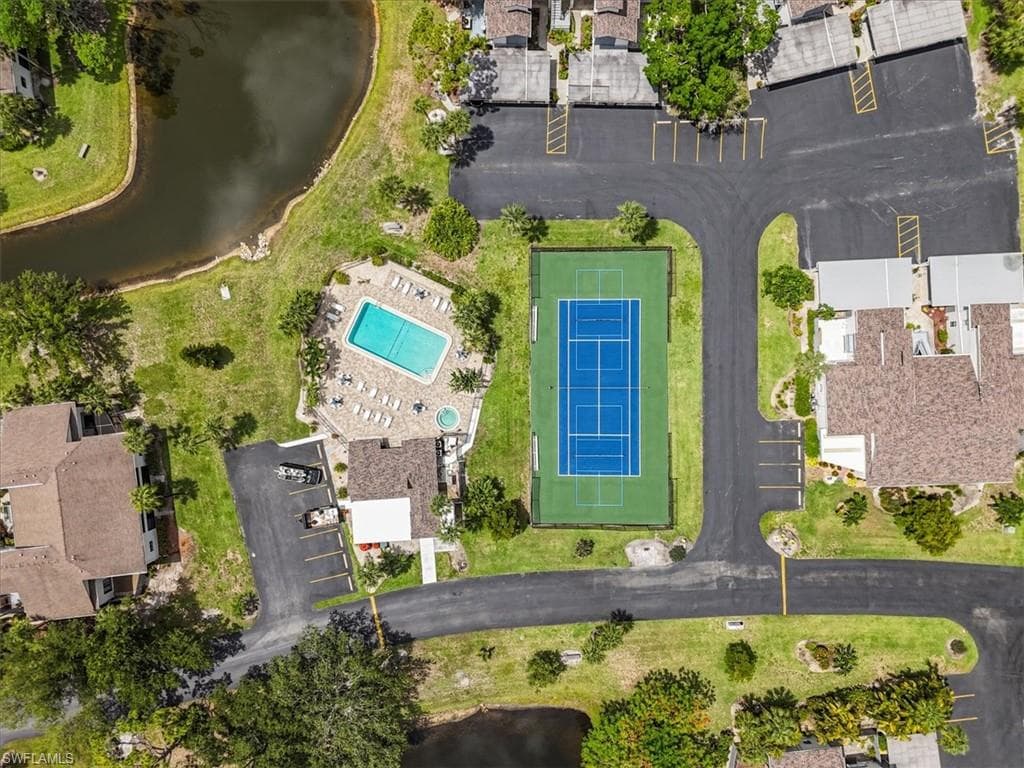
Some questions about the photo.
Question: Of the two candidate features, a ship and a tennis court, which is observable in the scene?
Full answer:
This aerial view contains a tennis court.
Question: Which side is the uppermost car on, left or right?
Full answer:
The uppermost car sits on the left side.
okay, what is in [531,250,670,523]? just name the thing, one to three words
tennis court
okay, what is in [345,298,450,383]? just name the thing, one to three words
swimming pool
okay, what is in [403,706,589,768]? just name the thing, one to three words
pond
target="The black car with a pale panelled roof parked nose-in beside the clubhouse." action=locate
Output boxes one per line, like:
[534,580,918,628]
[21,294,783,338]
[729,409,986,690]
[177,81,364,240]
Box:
[276,463,318,484]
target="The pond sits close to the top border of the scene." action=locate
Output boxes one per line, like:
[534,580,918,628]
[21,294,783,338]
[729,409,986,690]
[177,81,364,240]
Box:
[0,0,376,292]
